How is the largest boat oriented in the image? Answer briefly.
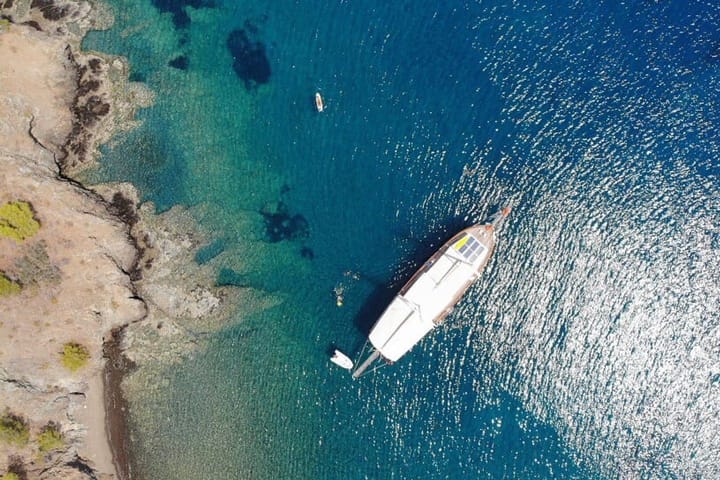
diagonally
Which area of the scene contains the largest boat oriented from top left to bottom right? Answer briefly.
bottom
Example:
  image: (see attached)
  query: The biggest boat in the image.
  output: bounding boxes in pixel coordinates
[352,207,513,372]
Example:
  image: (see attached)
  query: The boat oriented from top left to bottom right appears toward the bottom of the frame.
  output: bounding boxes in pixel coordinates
[330,349,355,369]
